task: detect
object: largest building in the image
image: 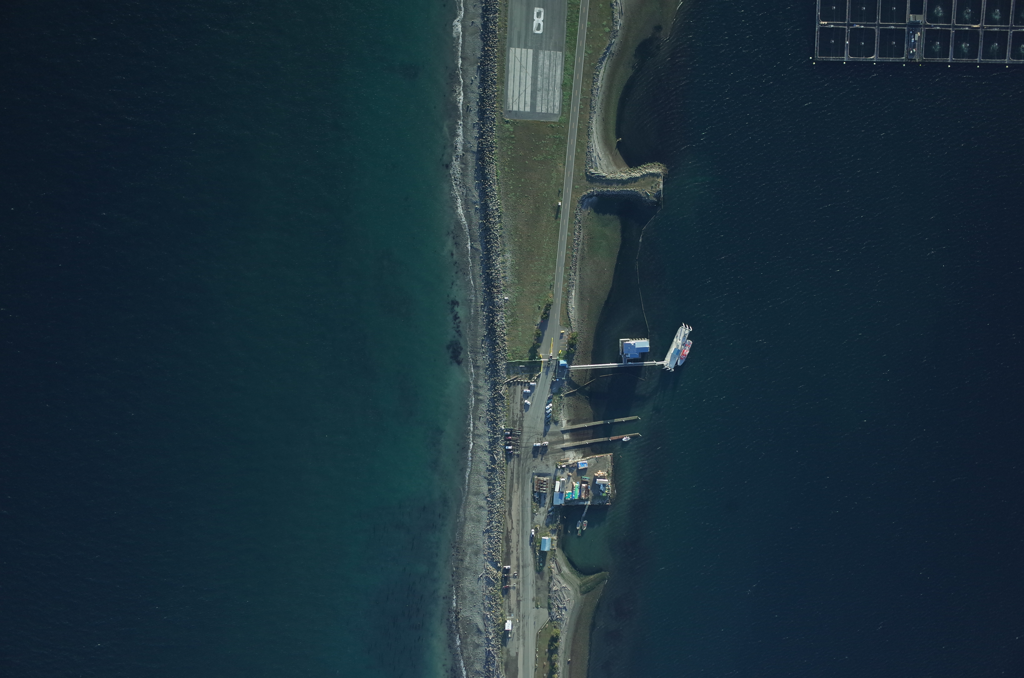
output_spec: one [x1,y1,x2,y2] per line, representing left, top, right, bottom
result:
[620,338,650,364]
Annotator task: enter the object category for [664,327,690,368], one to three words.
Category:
ship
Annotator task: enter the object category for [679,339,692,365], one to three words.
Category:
boat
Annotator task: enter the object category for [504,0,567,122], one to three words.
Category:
runway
